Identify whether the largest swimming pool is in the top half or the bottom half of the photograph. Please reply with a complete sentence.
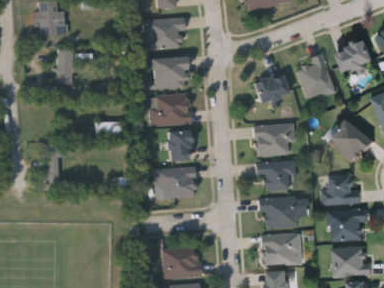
It is in the top half that the largest swimming pool appears.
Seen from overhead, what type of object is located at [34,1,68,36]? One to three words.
house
